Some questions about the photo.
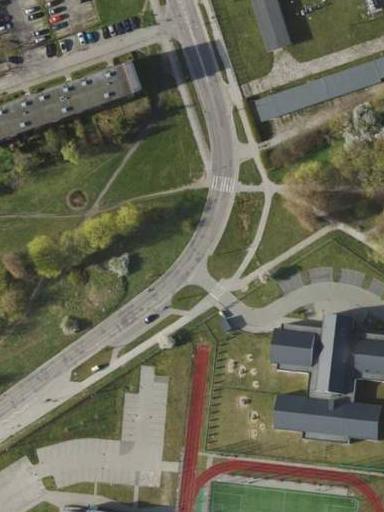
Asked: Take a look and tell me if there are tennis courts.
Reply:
No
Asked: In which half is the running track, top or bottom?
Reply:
bottom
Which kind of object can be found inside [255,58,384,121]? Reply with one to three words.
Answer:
building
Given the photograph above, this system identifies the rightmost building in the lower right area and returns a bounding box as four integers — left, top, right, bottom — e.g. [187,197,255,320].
[269,314,384,446]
